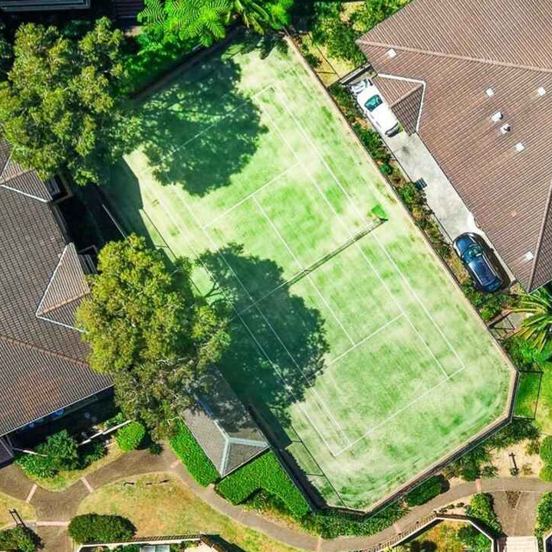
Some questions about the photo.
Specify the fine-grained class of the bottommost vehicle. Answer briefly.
automobile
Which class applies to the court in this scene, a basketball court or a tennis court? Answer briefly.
tennis court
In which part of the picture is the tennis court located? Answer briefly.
center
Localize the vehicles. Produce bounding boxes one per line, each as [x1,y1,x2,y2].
[350,77,401,139]
[454,230,504,297]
